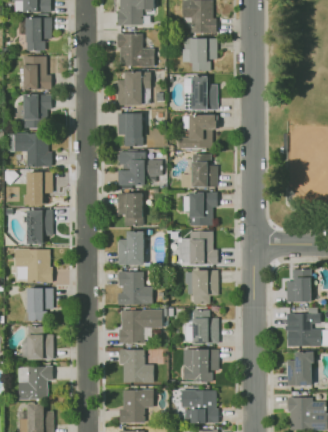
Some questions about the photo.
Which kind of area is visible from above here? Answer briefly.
residential area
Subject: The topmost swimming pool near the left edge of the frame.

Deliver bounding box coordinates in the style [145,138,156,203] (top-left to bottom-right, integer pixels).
[11,218,26,243]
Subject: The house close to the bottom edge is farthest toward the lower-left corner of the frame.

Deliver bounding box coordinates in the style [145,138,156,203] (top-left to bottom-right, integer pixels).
[20,404,54,432]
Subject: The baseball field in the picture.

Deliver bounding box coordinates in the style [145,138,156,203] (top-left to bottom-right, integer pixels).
[288,123,328,200]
